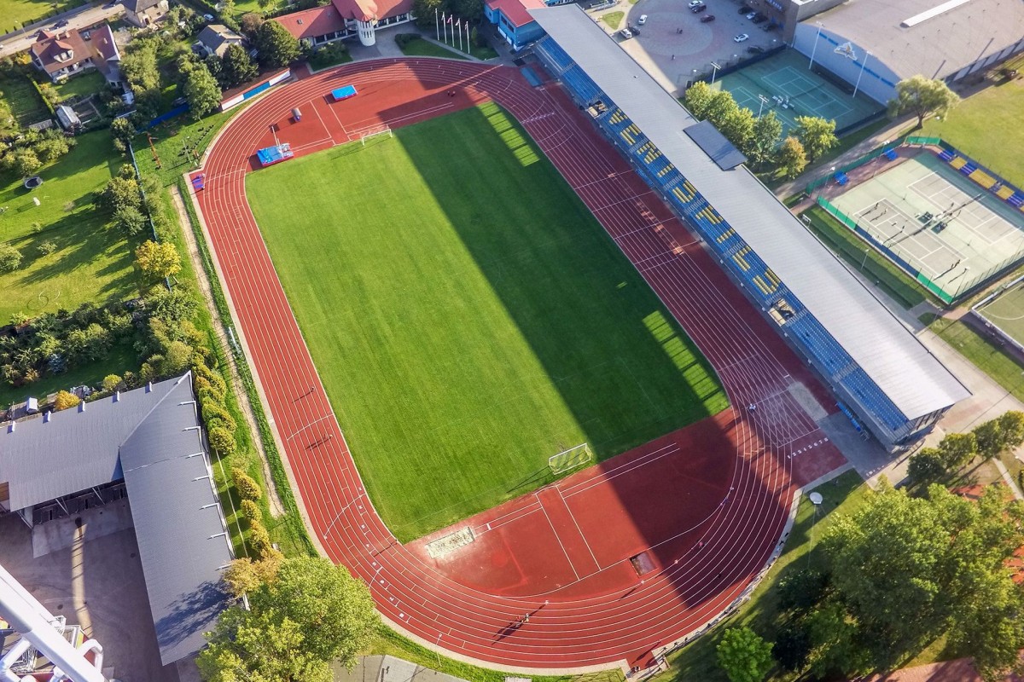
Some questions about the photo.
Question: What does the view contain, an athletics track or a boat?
athletics track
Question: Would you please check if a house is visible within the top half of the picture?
Yes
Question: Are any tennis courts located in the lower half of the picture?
No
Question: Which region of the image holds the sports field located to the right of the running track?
right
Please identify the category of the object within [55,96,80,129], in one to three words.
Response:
greenhouse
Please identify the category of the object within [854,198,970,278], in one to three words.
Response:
tennis court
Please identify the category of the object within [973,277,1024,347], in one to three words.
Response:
sports field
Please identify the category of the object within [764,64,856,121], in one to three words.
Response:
tennis court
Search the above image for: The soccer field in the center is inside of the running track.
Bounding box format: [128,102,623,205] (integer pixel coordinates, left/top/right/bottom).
[245,100,730,543]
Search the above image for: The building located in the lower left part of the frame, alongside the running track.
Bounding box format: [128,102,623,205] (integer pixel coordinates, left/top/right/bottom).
[0,369,247,663]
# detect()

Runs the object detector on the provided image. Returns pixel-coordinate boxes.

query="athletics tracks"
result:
[199,57,847,670]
